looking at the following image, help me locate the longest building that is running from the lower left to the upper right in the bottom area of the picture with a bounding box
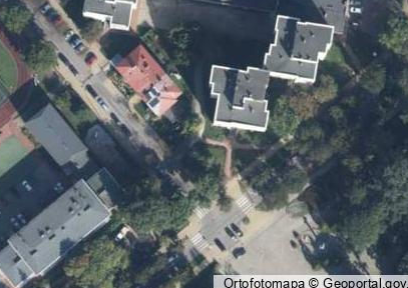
[8,180,111,276]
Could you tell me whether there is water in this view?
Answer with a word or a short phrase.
No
